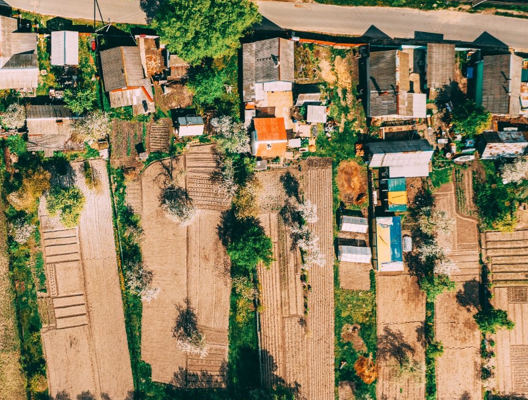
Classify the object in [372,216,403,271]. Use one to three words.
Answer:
greenhouse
